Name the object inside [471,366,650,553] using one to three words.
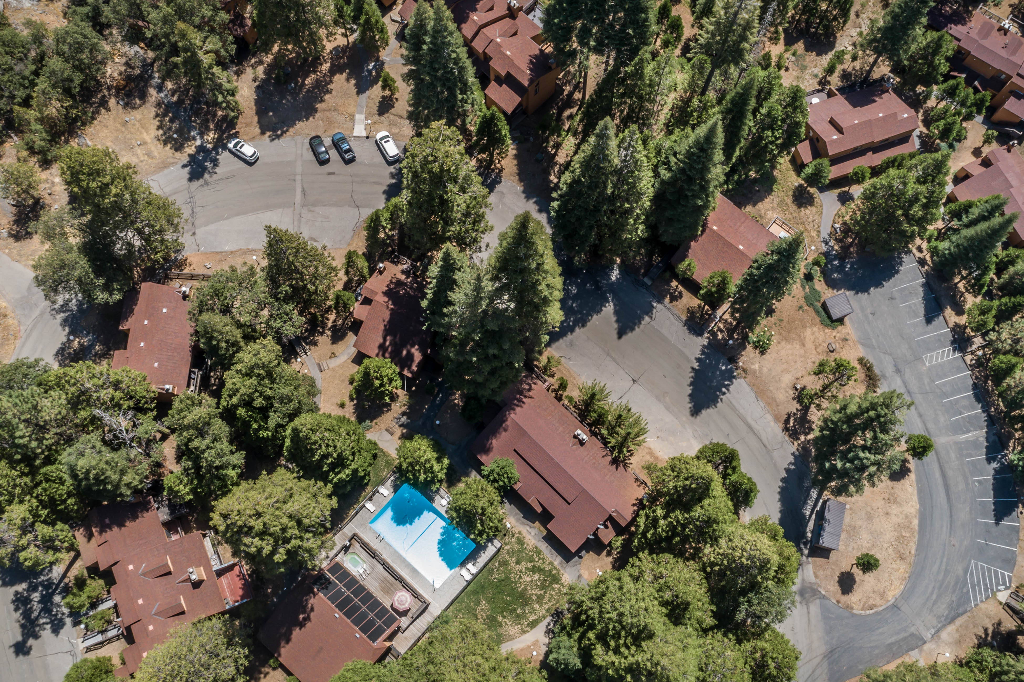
building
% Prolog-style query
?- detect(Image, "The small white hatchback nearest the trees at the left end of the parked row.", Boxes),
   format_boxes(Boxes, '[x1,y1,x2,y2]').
[227,138,260,165]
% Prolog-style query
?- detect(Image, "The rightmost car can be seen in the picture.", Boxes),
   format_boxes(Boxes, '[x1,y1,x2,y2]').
[376,129,401,165]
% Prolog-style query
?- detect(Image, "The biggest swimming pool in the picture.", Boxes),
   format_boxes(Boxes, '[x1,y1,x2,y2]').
[353,468,501,604]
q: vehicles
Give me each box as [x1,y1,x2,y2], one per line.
[332,130,357,165]
[309,133,332,166]
[227,138,260,165]
[376,129,401,165]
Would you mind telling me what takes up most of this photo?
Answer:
trees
